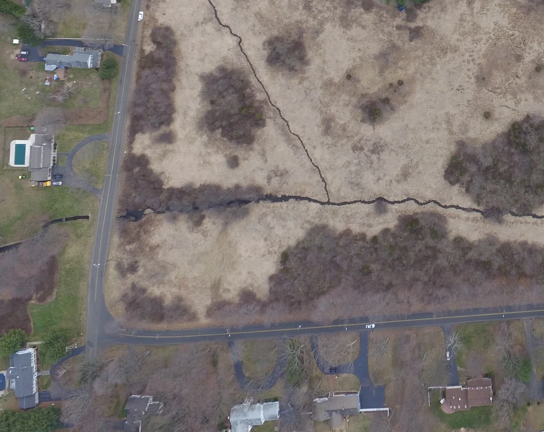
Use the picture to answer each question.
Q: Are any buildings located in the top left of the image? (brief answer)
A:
Yes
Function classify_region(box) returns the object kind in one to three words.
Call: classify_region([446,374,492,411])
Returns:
house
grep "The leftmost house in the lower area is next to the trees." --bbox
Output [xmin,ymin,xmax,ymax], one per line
[5,348,40,410]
